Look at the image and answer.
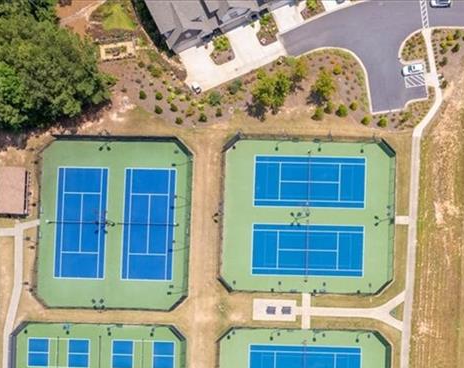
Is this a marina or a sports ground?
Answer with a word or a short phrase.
sports ground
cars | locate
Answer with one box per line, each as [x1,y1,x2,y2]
[430,0,451,8]
[402,62,424,76]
